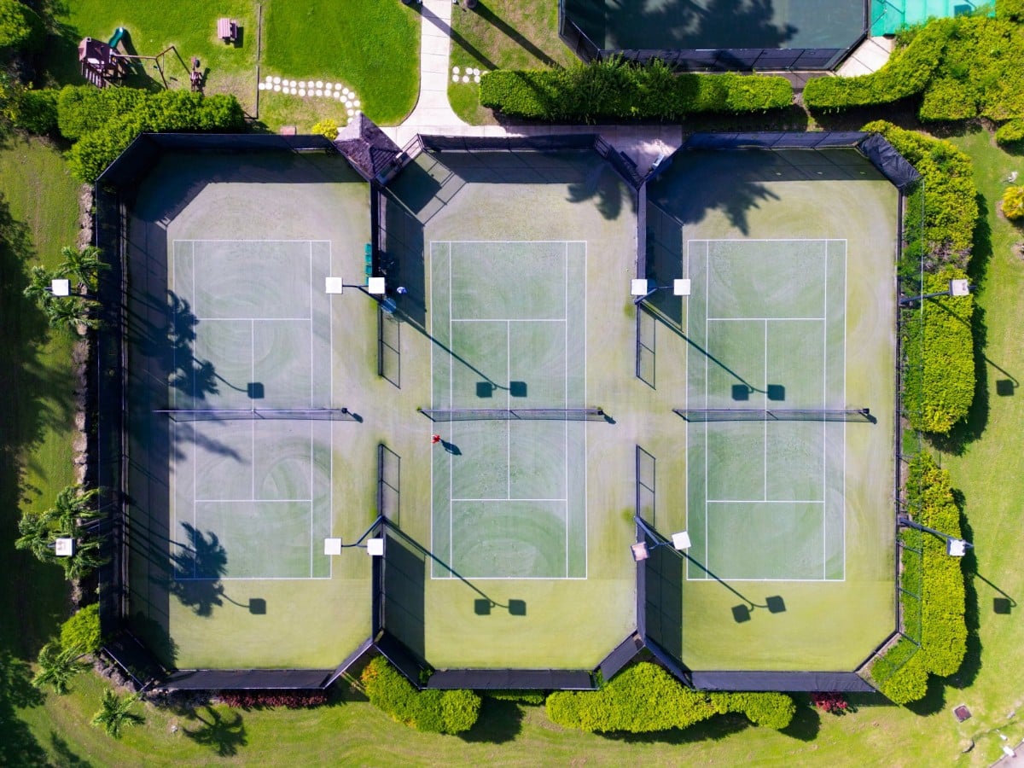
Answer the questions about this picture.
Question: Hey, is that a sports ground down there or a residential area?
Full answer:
The area seen from above is a sports ground.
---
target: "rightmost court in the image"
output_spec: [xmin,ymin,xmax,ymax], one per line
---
[869,0,978,36]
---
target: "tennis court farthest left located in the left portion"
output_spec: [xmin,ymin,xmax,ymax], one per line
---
[121,149,381,670]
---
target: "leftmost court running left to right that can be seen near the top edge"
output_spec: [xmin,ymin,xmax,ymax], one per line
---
[561,0,867,70]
